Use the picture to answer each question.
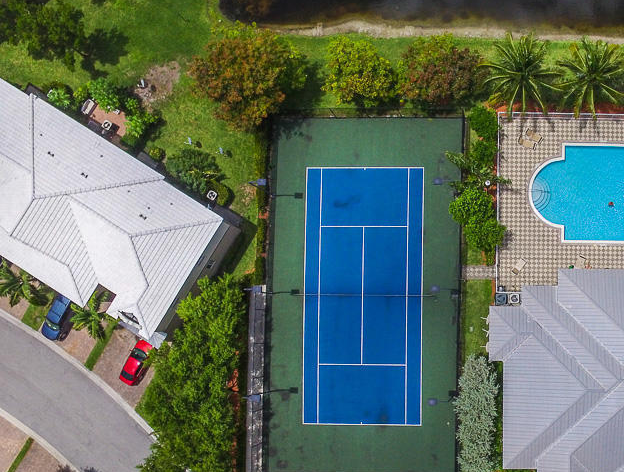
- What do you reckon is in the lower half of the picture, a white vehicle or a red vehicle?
red vehicle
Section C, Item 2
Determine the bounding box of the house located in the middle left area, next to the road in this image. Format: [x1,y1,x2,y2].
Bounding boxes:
[0,77,241,349]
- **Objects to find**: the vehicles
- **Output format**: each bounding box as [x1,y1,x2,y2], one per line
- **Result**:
[116,337,158,389]
[38,291,81,343]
